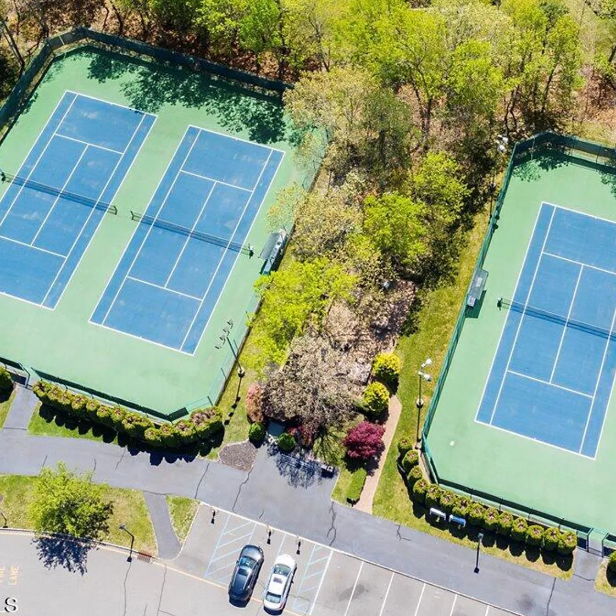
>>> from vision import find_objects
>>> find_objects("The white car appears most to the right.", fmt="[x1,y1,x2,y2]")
[263,555,295,614]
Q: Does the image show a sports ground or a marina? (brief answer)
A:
sports ground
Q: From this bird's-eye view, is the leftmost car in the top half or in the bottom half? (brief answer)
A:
bottom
